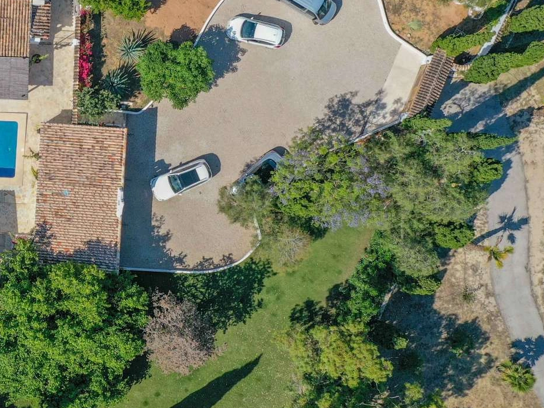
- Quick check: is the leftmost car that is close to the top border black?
No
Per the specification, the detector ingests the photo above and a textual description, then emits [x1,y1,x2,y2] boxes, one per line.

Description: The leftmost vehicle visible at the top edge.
[224,13,285,49]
